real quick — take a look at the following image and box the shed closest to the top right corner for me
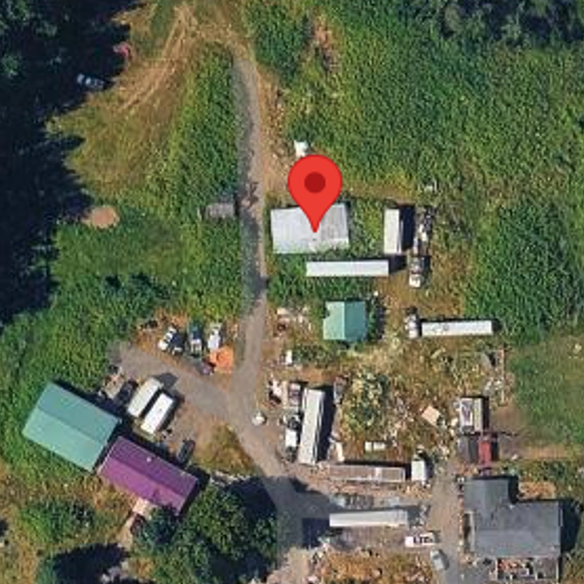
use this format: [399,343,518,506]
[269,203,350,252]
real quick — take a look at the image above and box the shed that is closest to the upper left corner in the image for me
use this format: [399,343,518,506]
[200,202,235,218]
